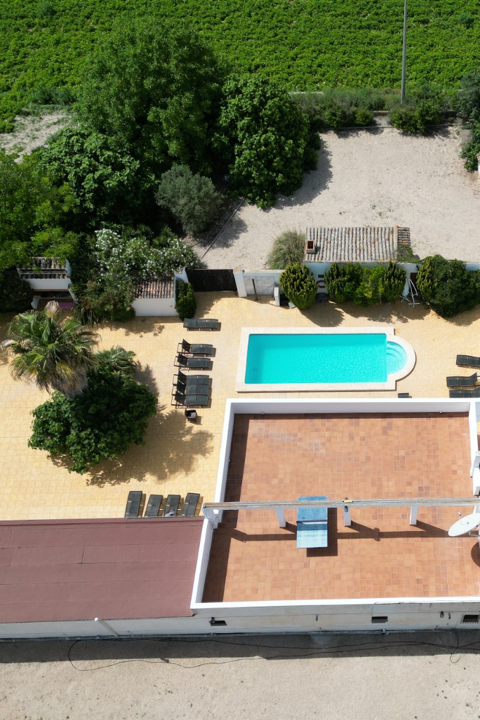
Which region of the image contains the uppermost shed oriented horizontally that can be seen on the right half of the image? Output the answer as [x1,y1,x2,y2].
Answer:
[302,225,410,264]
